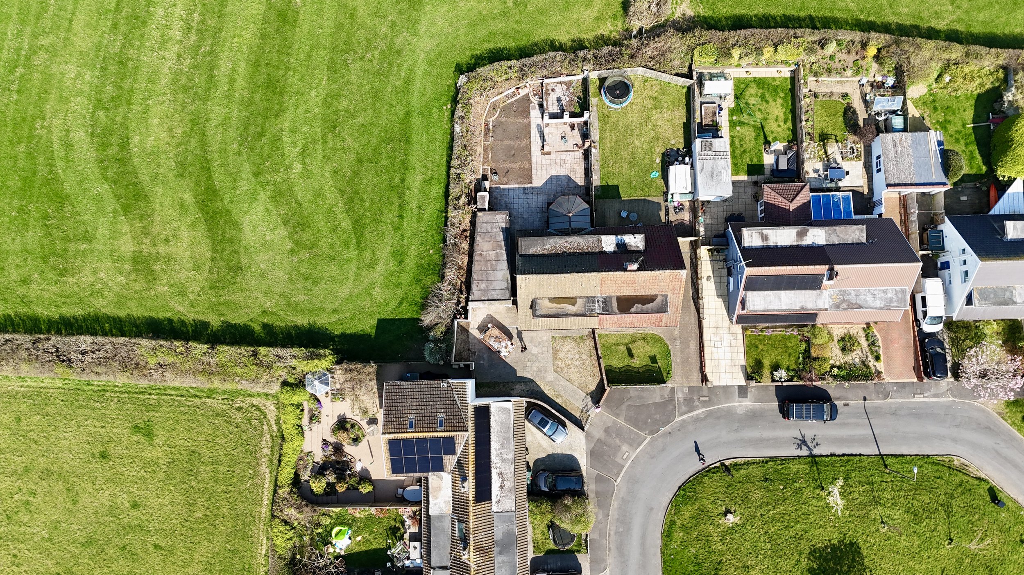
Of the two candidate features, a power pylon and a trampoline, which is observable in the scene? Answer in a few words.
trampoline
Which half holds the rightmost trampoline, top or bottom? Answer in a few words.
top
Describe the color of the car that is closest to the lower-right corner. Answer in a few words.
black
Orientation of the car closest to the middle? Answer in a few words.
on a diagonal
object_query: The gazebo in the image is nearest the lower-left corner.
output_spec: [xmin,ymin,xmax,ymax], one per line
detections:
[306,370,333,396]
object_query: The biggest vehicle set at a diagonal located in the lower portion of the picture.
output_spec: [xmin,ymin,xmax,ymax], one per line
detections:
[527,404,572,446]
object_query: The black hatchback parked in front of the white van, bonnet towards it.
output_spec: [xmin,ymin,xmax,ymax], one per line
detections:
[923,337,949,381]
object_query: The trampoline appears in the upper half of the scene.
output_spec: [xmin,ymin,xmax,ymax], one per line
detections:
[602,73,635,110]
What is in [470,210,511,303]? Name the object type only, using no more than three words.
building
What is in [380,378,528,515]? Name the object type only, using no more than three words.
house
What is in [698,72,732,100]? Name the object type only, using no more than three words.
greenhouse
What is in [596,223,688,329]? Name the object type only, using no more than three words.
house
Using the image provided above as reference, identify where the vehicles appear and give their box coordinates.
[919,277,948,332]
[527,404,572,446]
[780,399,836,425]
[923,337,949,381]
[534,469,586,496]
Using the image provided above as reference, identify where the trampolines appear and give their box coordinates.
[550,524,578,552]
[602,73,635,110]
